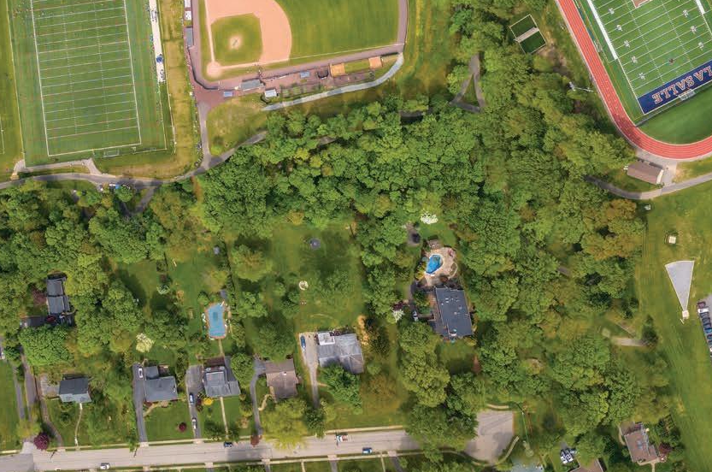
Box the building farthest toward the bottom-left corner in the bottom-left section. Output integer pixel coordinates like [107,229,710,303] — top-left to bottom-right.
[58,377,91,402]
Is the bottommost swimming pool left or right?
left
